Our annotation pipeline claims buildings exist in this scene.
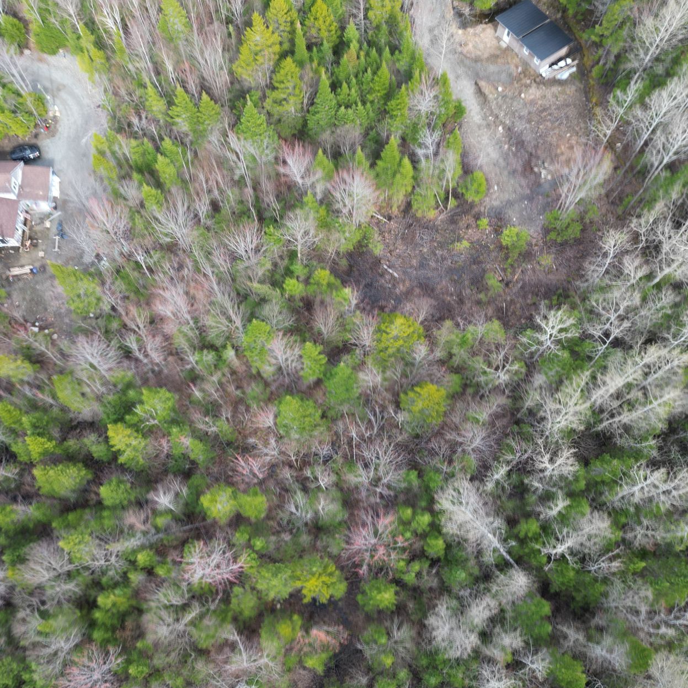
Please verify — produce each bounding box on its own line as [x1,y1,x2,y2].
[495,0,574,74]
[0,162,55,247]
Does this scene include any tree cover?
Yes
